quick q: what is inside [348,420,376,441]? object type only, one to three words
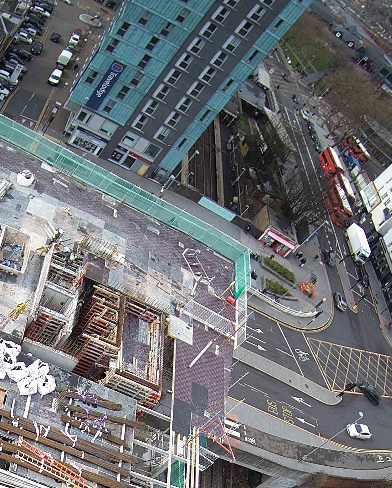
car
